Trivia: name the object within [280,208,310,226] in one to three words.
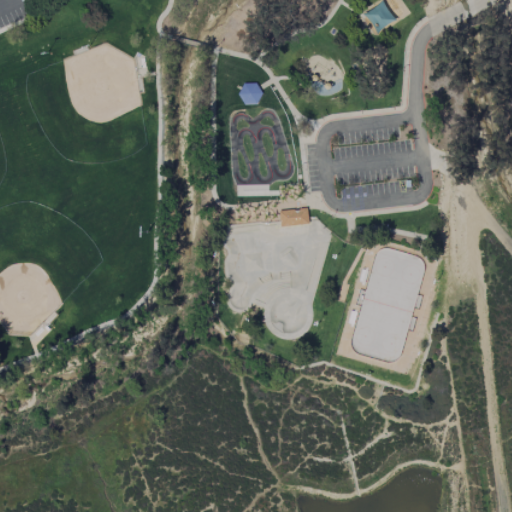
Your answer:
building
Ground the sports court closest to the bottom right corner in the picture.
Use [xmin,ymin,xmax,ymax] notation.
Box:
[354,247,424,362]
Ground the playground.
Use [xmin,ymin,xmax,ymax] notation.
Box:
[308,55,344,96]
